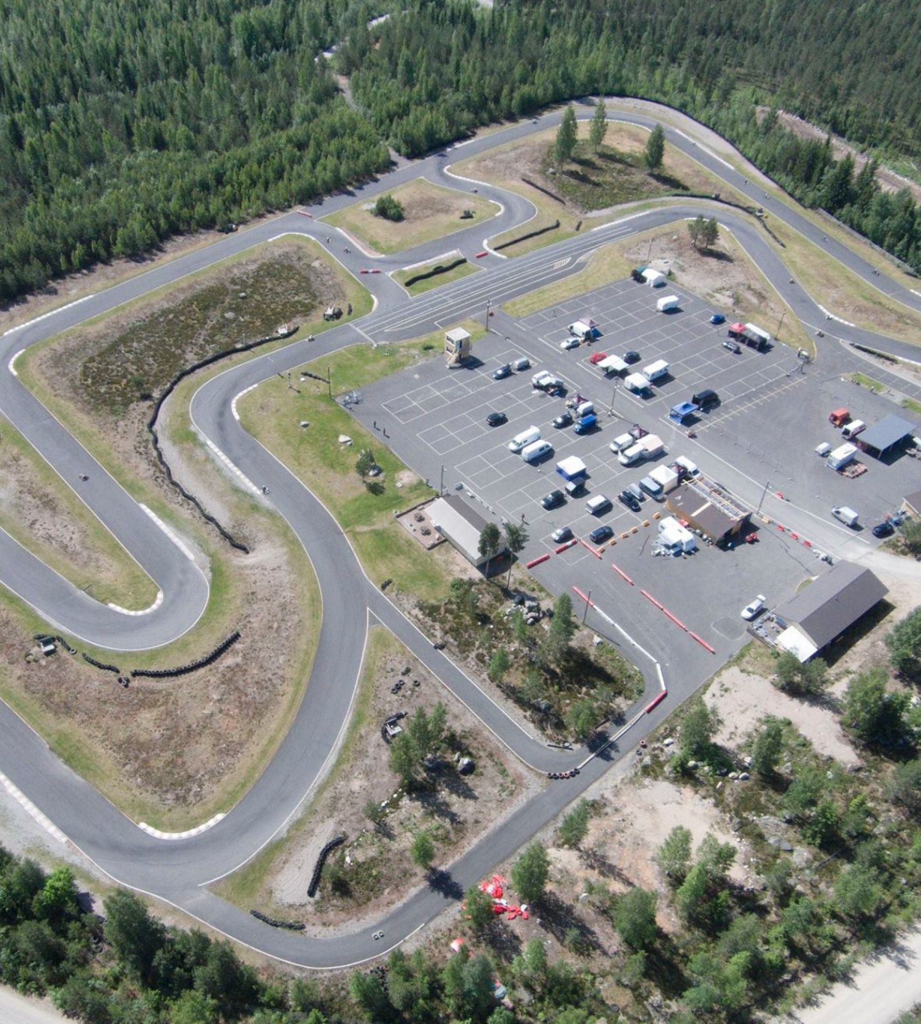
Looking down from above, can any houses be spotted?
Yes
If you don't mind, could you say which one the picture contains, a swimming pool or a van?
van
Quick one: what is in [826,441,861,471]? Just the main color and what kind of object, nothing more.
white camper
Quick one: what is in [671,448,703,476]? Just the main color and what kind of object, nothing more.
white van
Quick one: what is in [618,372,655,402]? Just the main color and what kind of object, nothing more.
white tent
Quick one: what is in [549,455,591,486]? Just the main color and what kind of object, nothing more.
white tent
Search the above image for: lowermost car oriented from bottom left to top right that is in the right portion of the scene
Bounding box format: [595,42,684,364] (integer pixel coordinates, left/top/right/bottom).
[737,589,772,622]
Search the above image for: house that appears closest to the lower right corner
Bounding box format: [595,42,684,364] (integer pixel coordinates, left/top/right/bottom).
[769,565,890,662]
